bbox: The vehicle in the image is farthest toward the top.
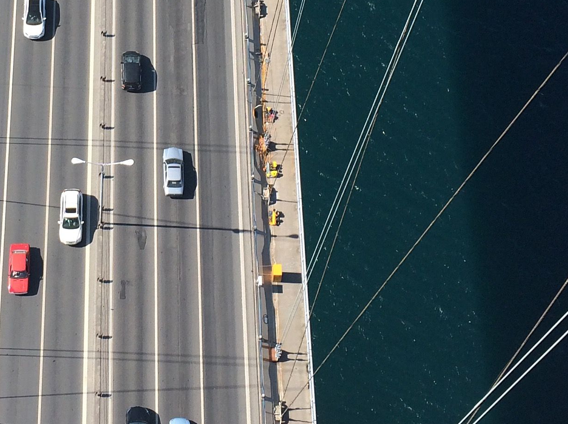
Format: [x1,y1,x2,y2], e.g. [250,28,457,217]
[21,0,47,41]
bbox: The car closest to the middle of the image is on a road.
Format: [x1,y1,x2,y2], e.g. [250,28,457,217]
[162,148,186,201]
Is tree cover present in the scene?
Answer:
No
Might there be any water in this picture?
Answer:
Yes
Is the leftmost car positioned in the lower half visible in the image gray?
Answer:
No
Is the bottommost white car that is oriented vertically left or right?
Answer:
left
